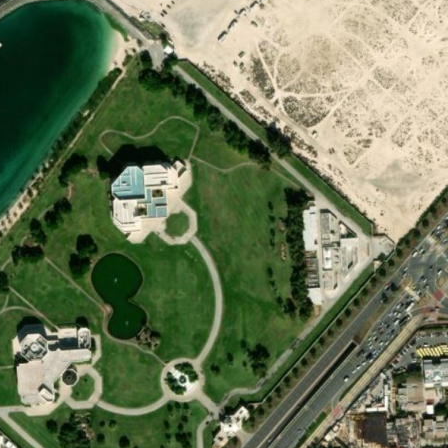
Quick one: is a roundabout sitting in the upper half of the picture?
No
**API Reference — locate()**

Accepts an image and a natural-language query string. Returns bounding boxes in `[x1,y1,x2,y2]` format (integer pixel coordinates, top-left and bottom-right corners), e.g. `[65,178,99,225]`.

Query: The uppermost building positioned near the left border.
[13,326,91,404]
